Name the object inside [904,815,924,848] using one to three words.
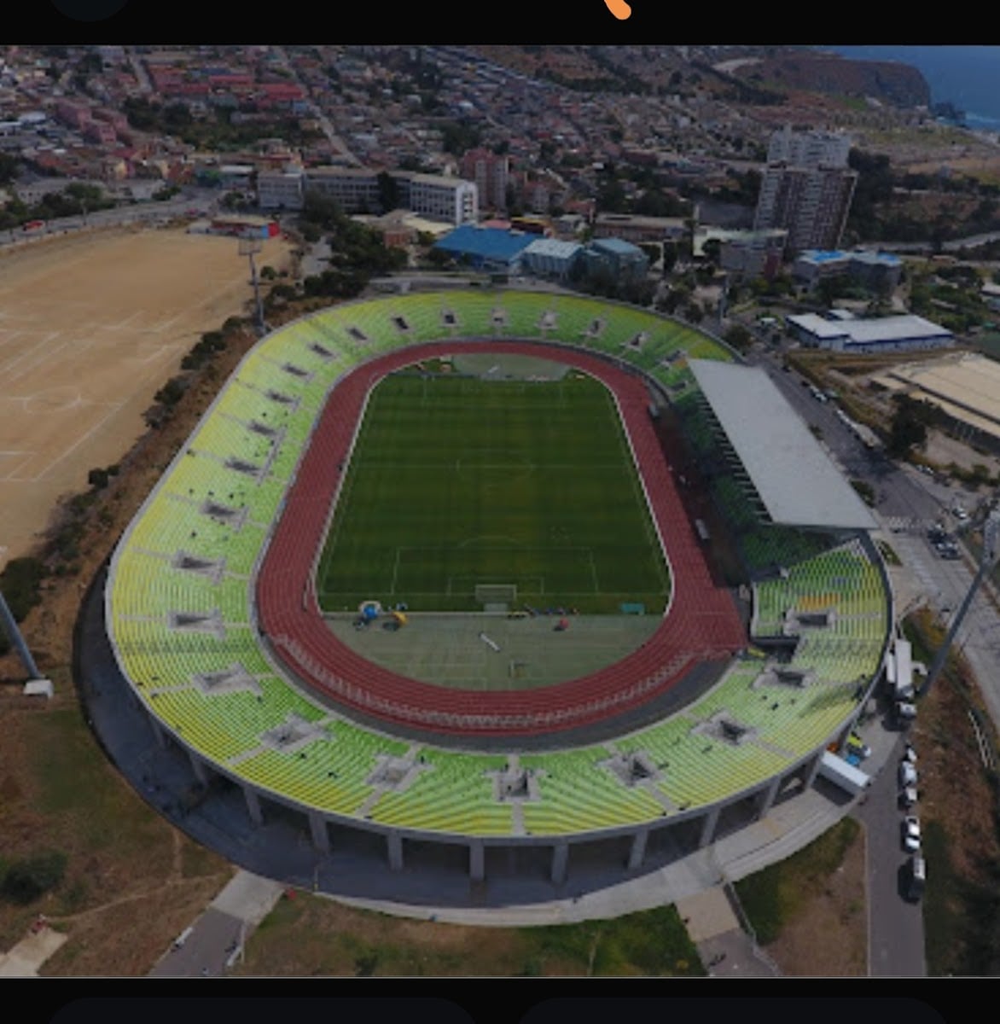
car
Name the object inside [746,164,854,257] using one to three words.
building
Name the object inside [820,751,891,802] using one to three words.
truck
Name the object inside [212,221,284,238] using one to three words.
building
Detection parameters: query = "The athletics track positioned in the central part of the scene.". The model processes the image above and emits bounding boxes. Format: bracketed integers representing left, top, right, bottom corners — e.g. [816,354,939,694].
[264,343,726,735]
